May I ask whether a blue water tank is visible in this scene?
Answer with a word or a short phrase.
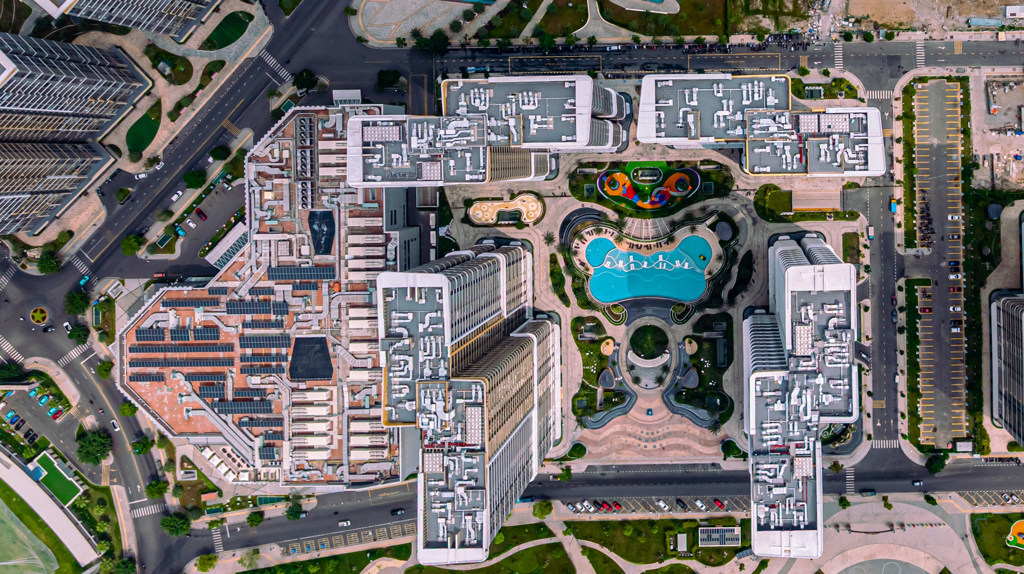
No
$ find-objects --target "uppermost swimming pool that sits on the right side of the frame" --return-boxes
[564,217,730,311]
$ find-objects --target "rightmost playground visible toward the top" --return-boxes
[596,160,700,212]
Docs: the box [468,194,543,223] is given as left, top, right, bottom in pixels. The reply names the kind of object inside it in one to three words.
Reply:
playground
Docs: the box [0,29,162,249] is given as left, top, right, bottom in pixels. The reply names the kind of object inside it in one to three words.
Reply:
building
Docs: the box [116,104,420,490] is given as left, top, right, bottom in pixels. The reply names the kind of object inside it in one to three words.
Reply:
building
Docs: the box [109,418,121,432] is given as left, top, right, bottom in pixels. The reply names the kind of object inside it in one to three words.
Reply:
vehicle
